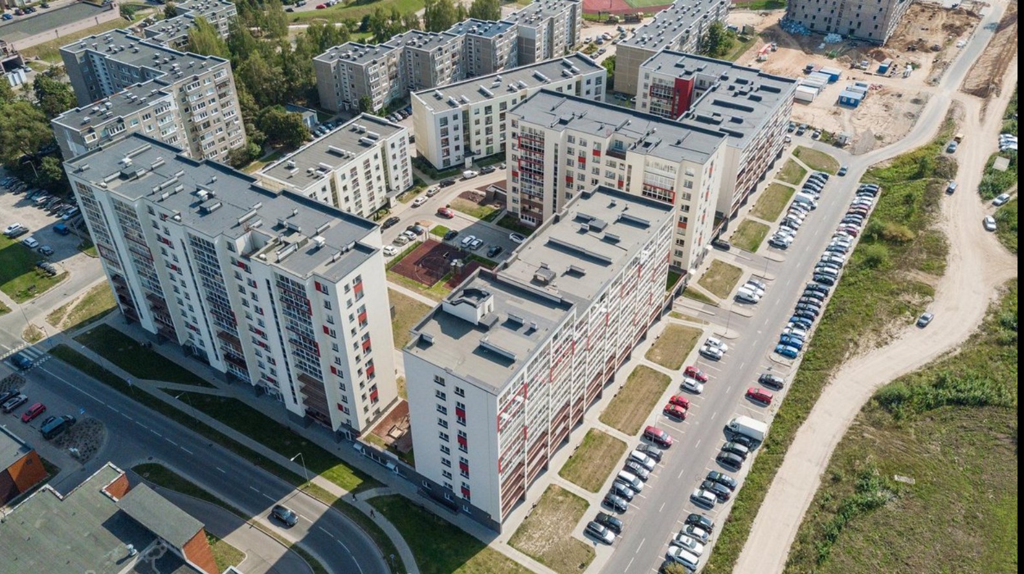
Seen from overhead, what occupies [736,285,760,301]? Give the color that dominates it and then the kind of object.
white vehicle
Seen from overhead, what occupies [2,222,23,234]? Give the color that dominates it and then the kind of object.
white vehicle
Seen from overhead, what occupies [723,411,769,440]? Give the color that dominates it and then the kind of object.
white truck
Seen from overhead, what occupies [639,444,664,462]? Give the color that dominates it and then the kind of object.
gray car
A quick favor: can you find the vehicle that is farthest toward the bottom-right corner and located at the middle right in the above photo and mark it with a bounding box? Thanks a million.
[914,314,936,327]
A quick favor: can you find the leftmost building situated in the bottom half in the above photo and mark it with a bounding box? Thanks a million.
[0,425,46,501]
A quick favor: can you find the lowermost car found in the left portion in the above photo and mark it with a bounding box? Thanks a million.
[271,504,299,528]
